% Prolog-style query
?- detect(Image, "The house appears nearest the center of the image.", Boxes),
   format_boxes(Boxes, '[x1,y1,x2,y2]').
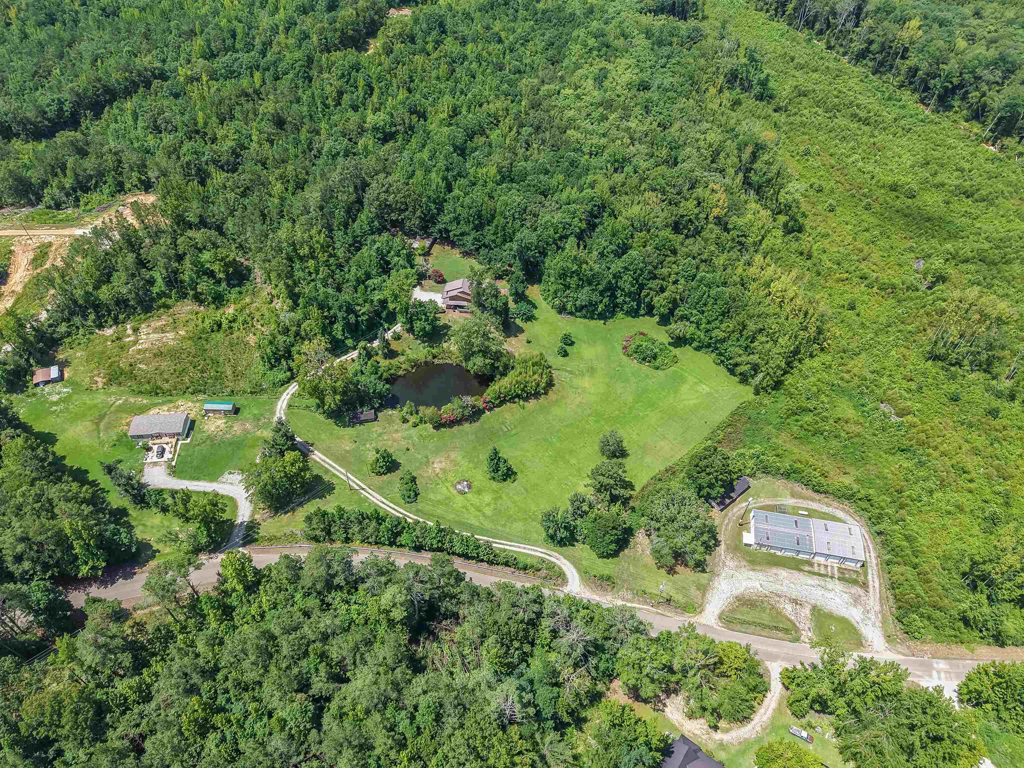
[441,270,483,310]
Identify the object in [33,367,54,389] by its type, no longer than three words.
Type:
shed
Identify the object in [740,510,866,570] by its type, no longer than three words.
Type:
building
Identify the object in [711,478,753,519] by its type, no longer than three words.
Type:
shed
